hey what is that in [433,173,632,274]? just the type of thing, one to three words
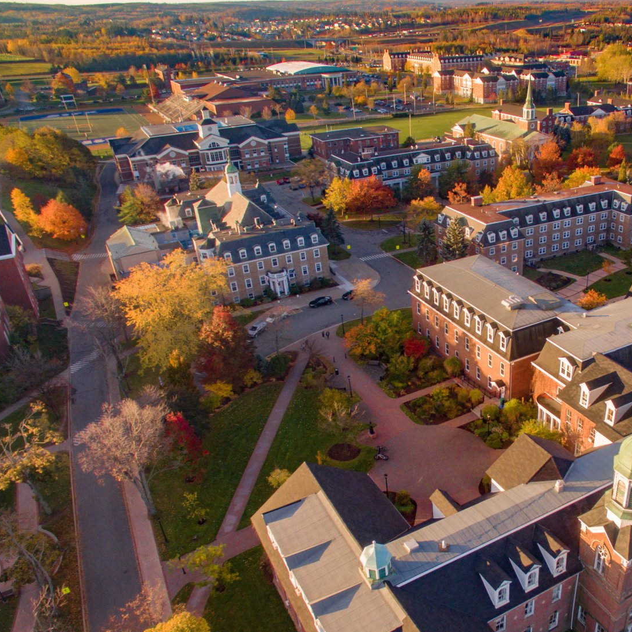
house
